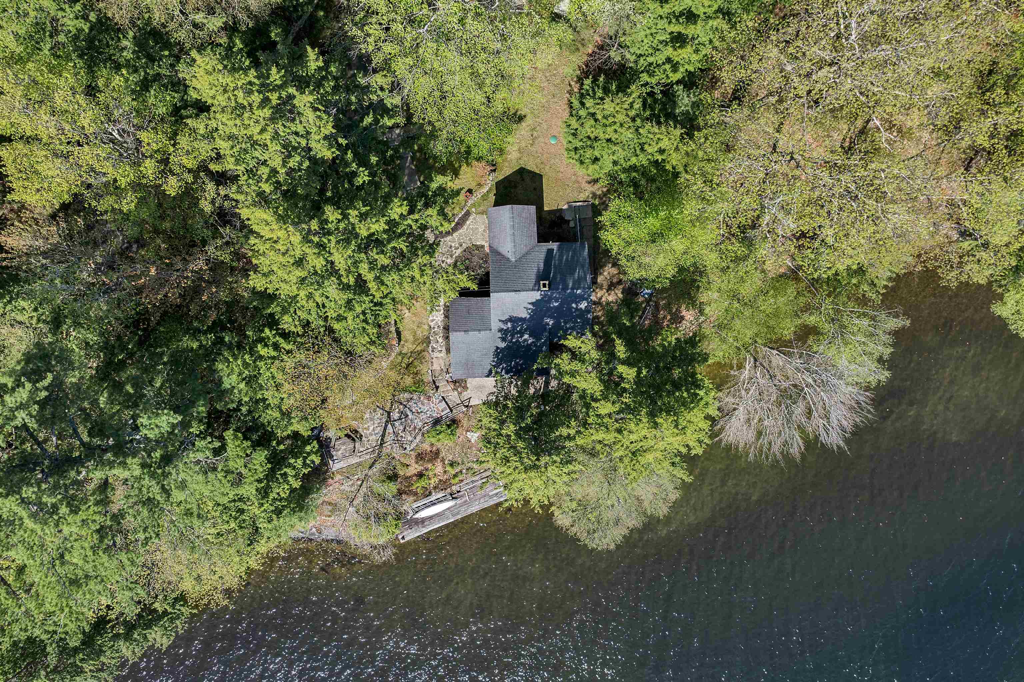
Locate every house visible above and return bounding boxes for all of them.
[449,203,593,380]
